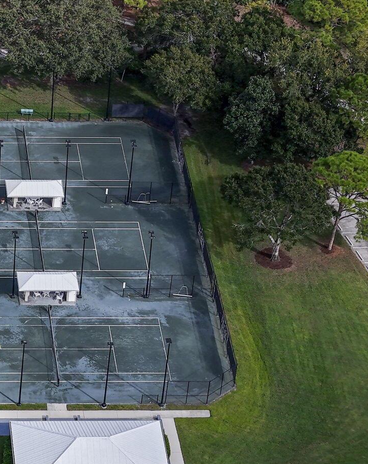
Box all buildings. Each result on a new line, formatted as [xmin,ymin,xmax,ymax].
[8,419,170,464]
[16,271,79,306]
[4,179,64,211]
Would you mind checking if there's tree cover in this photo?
Yes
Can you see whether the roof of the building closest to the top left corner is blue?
No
